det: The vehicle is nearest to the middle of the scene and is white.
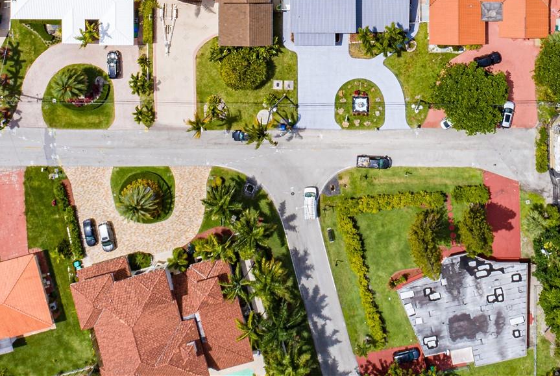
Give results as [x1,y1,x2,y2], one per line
[303,183,318,221]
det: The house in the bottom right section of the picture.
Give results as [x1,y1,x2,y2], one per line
[397,248,532,367]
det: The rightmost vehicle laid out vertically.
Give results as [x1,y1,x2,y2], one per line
[499,100,514,130]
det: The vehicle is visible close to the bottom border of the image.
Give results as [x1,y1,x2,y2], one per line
[391,346,420,363]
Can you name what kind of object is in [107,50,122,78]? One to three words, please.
car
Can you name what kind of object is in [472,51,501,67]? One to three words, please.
car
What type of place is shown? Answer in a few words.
residential area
